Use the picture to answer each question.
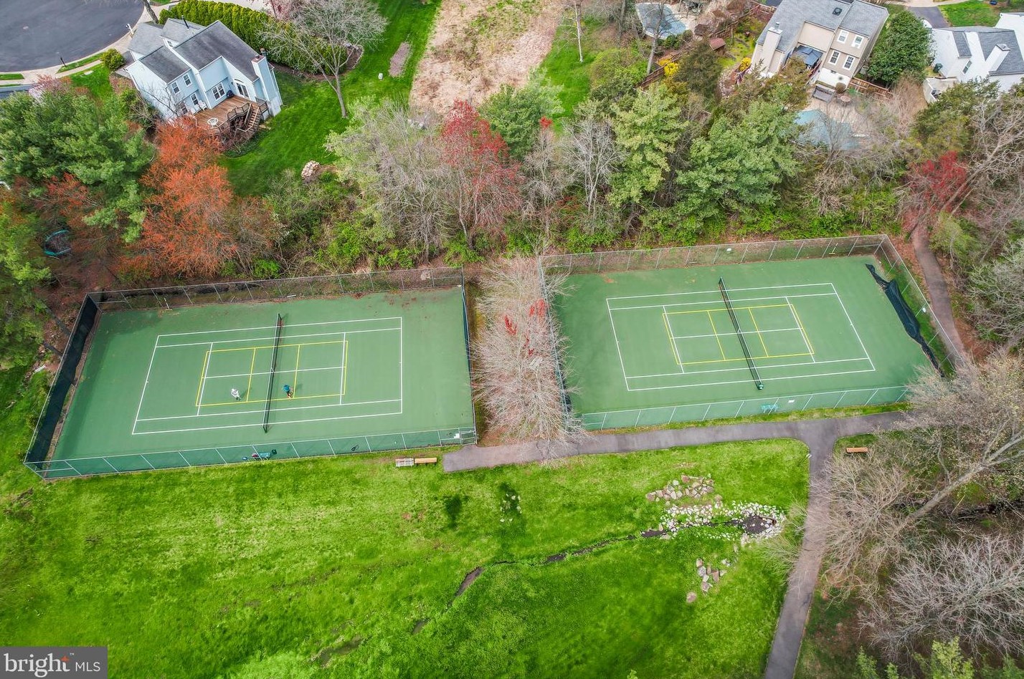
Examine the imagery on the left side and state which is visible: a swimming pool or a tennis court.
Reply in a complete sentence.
It is a tennis court that can be seen on the left side.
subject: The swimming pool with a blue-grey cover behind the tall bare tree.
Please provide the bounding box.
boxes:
[635,1,688,39]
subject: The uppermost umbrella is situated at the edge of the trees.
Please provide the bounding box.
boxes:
[690,18,714,36]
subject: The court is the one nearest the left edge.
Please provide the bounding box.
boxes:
[48,287,476,470]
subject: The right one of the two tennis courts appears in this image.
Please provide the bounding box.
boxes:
[541,255,948,432]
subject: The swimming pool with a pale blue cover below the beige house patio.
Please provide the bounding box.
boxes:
[797,108,861,152]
